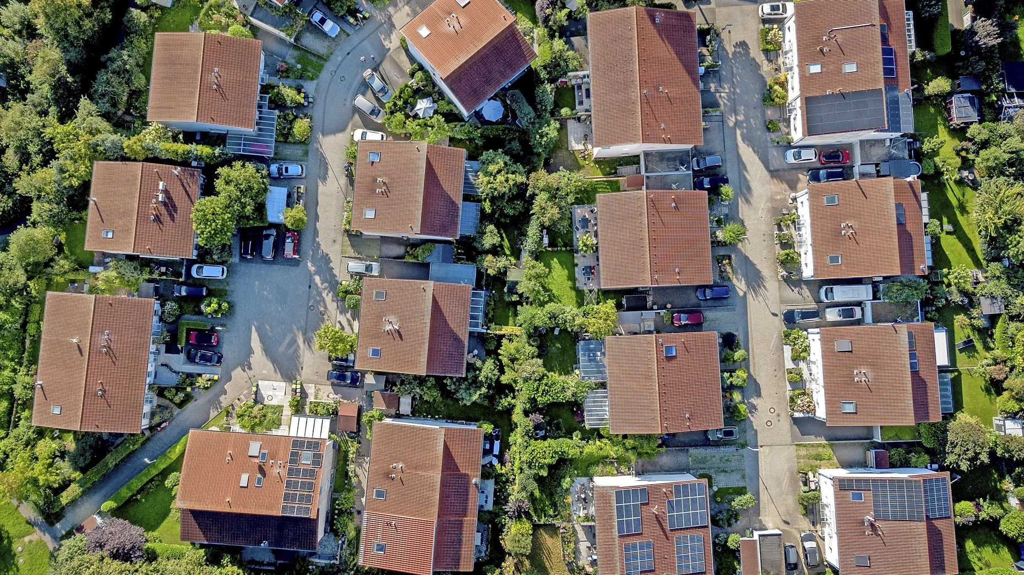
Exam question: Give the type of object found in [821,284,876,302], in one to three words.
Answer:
vehicle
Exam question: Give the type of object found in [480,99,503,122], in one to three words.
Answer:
umbrella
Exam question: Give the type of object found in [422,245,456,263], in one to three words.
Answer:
shed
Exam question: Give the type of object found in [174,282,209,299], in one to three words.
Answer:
car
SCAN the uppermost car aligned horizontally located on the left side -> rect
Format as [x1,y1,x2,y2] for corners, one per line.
[355,127,385,141]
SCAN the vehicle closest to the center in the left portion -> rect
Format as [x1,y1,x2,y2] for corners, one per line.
[346,261,381,277]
